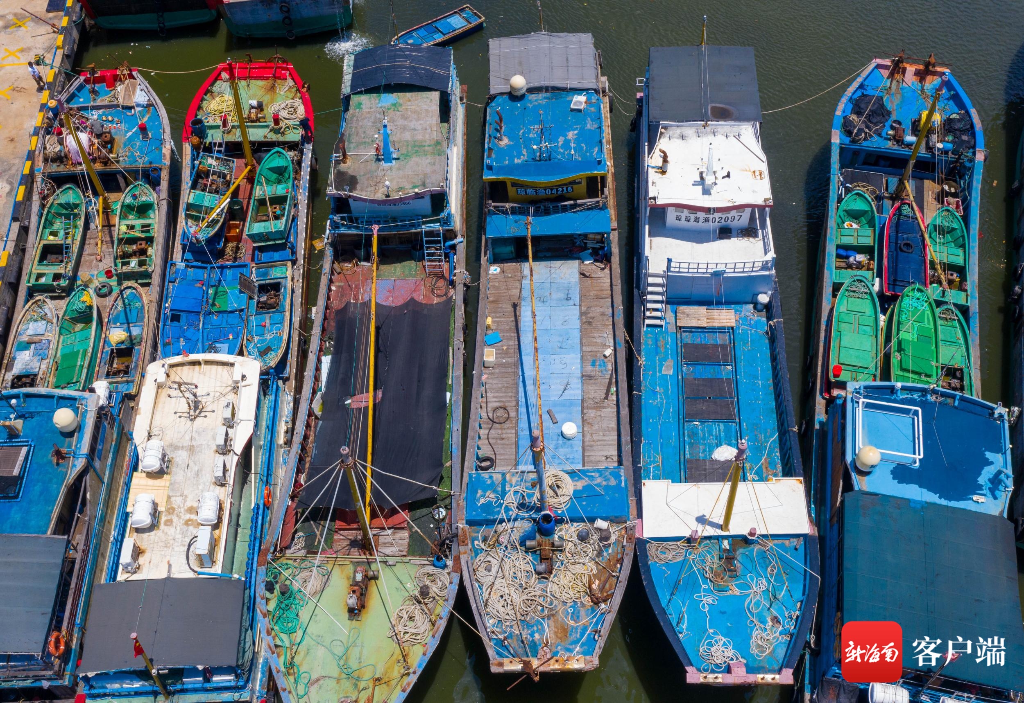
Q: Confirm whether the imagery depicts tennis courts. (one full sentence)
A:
No, the photo shows no tennis court.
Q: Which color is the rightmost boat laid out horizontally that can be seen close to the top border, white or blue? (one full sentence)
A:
The rightmost boat laid out horizontally that can be seen close to the top border is blue.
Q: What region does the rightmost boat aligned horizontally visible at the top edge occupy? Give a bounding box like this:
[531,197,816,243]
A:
[392,6,483,43]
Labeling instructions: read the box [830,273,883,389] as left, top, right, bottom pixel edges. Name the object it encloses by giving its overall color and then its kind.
green boat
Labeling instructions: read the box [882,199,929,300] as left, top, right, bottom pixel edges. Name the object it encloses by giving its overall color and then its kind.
blue boat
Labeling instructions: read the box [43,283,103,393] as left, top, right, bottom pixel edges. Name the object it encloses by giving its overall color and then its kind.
green boat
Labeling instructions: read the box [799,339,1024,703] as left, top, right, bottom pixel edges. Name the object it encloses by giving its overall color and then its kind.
blue boat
